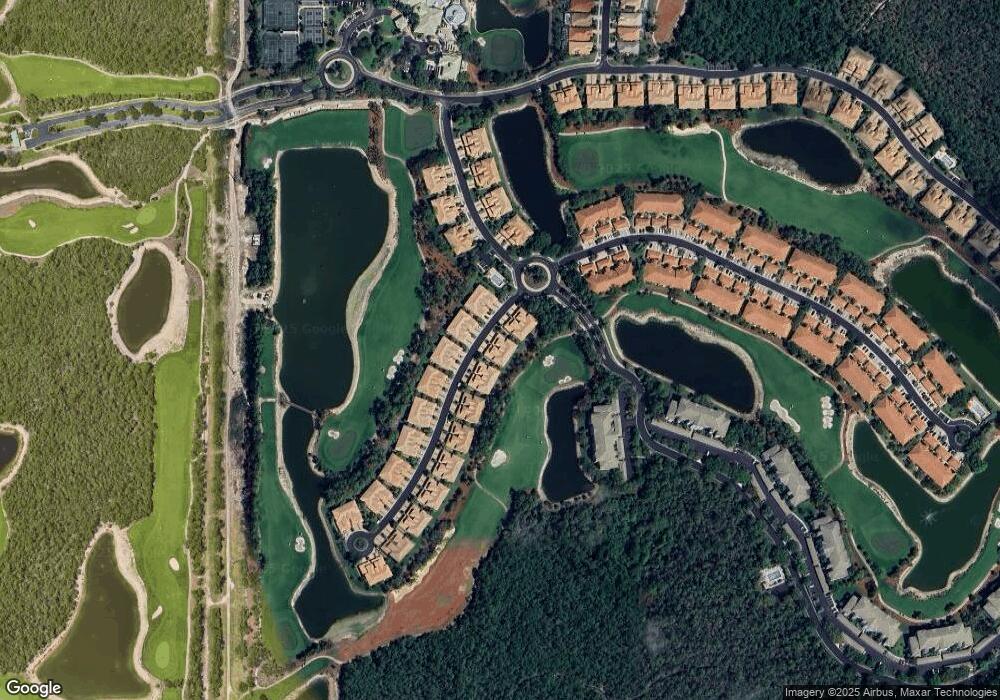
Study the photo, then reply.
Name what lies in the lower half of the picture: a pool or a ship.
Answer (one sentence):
It is a pool that can be seen in the lower half of the picture.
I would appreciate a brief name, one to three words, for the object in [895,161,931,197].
house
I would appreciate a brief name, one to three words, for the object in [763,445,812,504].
building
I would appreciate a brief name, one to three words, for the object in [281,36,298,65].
tennis court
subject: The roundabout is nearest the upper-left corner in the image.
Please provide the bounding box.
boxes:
[317,51,362,96]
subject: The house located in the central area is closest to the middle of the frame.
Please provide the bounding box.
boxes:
[483,332,519,367]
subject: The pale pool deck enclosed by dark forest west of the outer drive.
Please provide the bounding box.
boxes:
[761,565,785,589]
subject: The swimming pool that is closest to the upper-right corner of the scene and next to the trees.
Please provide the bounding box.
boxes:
[936,150,957,168]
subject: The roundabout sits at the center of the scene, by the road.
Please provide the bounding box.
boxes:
[514,255,559,300]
